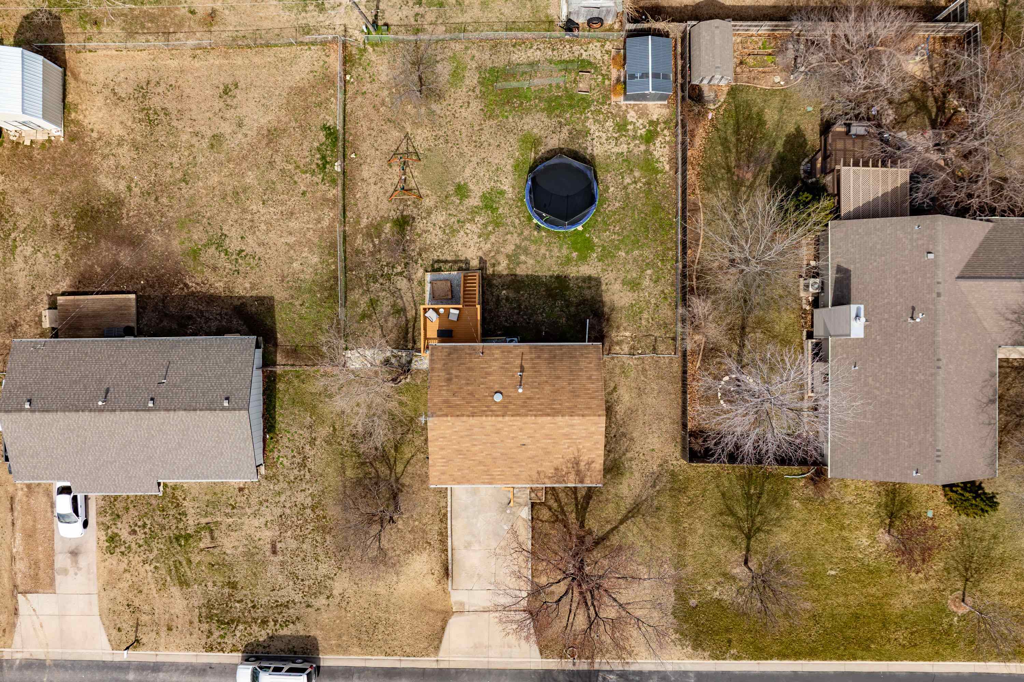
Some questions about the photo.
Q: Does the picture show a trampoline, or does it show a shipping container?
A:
trampoline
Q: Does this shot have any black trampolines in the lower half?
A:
No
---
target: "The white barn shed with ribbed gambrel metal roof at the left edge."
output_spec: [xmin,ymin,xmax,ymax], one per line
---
[0,40,62,137]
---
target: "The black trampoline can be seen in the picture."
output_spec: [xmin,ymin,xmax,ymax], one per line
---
[524,154,599,236]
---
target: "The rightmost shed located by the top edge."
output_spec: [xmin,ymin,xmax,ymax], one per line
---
[688,16,733,90]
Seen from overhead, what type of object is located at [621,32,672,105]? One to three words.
shed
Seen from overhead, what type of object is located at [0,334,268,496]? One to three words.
house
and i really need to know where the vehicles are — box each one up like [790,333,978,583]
[237,661,317,682]
[49,484,89,541]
